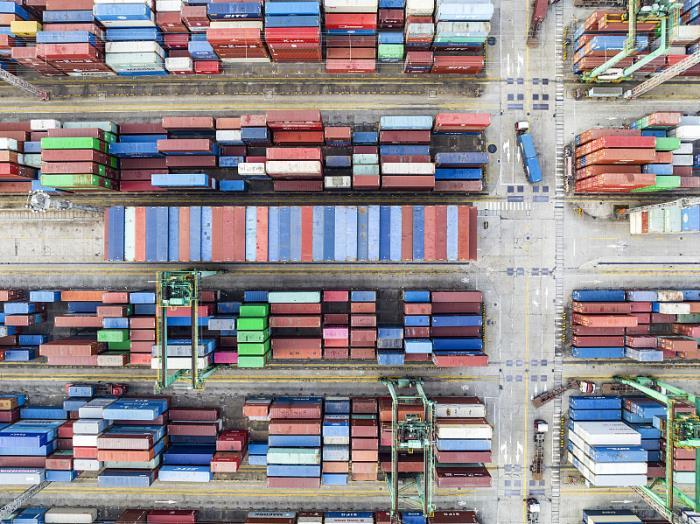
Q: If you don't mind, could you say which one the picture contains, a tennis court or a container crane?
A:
container crane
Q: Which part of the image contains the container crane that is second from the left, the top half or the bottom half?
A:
bottom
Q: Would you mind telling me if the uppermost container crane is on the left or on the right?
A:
right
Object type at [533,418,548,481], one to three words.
vehicle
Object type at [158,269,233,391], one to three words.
container crane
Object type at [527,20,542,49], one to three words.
vehicle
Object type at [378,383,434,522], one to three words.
container crane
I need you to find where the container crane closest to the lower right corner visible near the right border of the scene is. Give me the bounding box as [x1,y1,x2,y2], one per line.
[609,380,700,523]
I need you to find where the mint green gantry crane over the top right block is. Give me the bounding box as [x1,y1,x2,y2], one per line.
[583,0,675,81]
